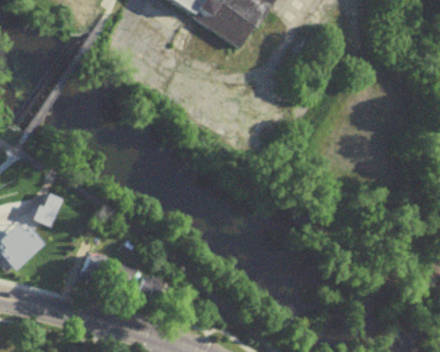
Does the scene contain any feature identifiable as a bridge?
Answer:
Yes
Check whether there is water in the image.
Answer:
Yes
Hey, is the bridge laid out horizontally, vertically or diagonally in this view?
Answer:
diagonally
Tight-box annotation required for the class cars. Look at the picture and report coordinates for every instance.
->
[0,292,10,298]
[123,241,134,250]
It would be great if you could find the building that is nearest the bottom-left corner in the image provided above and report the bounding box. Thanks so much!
[78,252,110,278]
